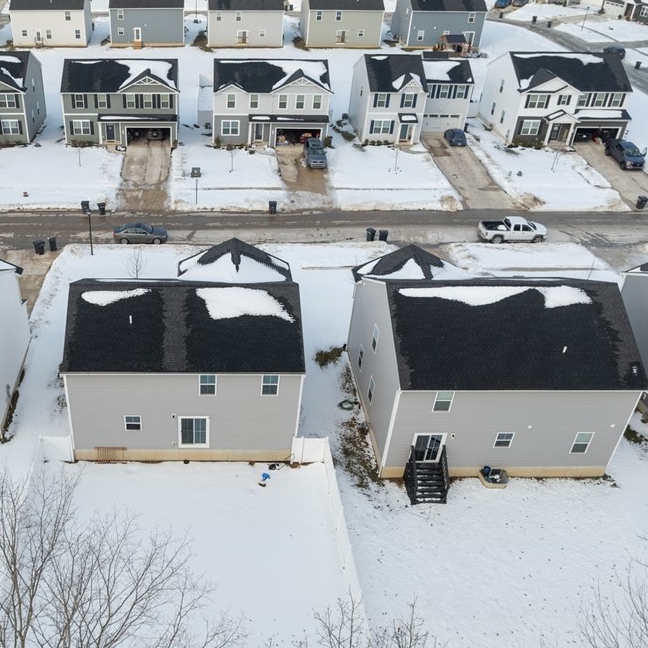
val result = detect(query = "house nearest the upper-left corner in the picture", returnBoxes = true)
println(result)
[8,0,92,48]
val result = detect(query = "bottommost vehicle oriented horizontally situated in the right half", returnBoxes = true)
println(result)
[471,212,547,241]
